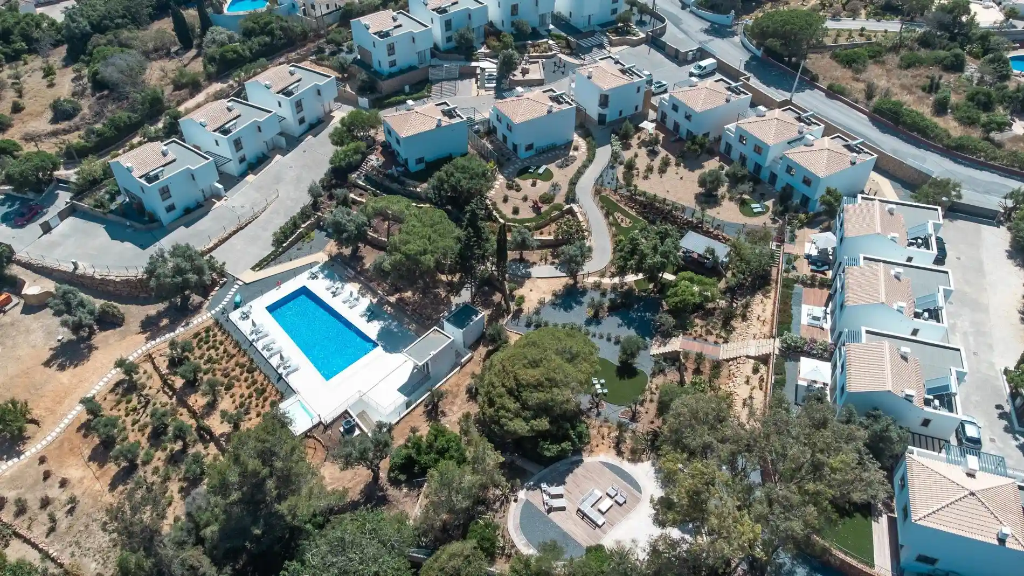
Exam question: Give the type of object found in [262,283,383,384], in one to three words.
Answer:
swimming pool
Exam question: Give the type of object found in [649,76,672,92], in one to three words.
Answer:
car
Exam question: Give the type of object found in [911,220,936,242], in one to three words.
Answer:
solar panel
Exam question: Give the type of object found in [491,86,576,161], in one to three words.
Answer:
house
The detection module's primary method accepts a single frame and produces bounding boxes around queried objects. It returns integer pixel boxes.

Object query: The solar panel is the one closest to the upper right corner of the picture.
[842,134,867,152]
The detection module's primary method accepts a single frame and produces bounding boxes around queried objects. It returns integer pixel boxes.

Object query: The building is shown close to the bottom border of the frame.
[889,441,1024,576]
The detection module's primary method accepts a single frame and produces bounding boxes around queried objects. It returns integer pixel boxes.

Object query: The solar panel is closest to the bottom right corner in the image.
[929,368,961,396]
